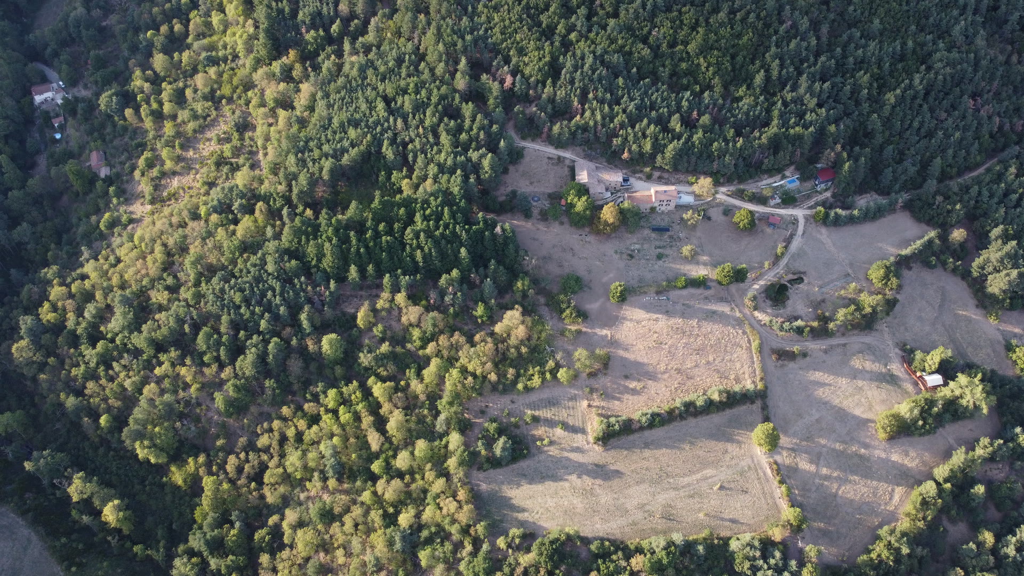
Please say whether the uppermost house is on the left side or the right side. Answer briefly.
left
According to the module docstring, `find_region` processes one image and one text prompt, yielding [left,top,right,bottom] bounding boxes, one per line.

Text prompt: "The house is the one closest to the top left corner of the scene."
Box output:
[32,88,66,111]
